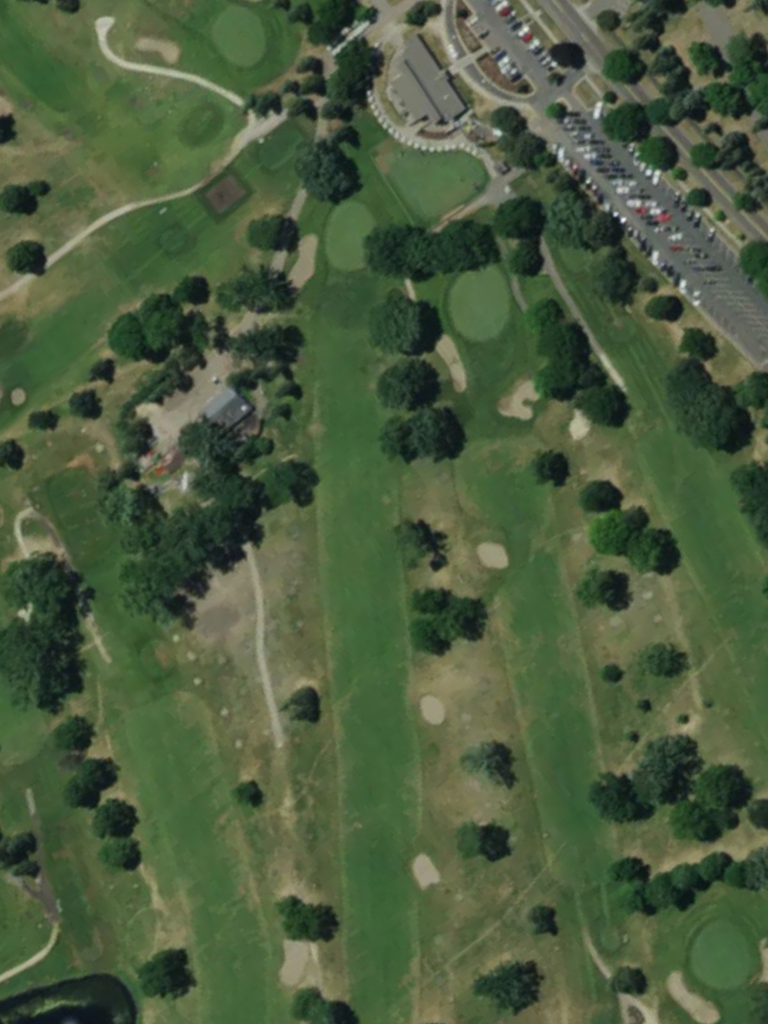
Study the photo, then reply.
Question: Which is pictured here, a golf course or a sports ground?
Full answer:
The area seen from above is a golf course.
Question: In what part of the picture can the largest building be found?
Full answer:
You can find the largest building in the top area of the picture.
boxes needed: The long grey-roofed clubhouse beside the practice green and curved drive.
[392,34,467,126]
